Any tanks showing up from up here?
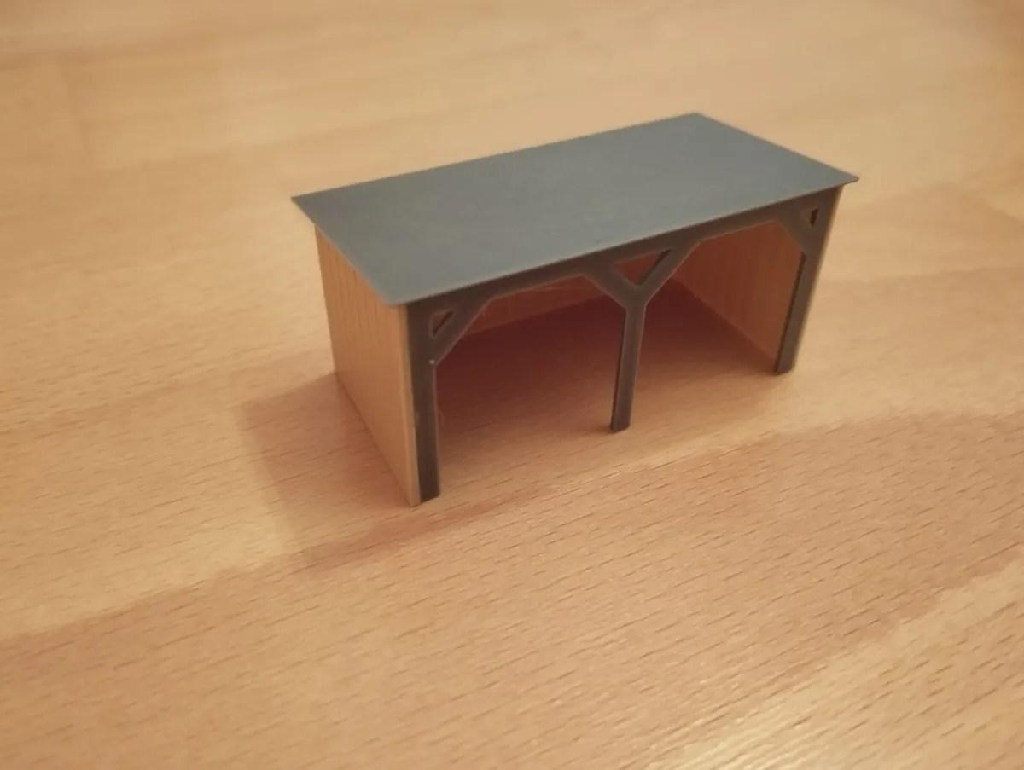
No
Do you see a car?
No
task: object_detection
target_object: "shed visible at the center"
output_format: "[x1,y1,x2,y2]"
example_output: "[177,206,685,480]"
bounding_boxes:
[293,113,858,505]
